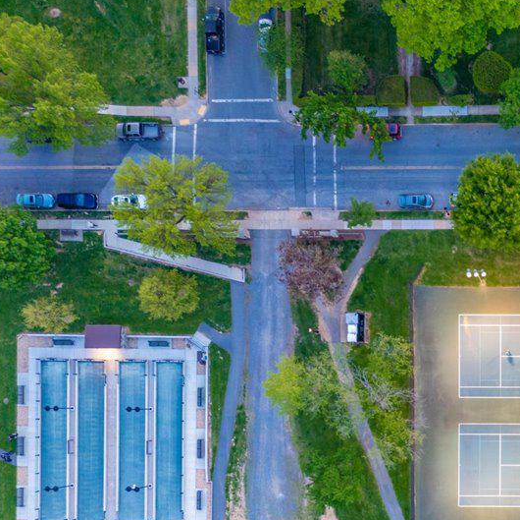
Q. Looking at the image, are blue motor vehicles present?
Yes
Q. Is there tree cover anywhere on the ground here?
Yes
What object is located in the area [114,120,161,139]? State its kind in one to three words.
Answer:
vehicle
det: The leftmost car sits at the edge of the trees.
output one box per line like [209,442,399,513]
[12,190,52,208]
